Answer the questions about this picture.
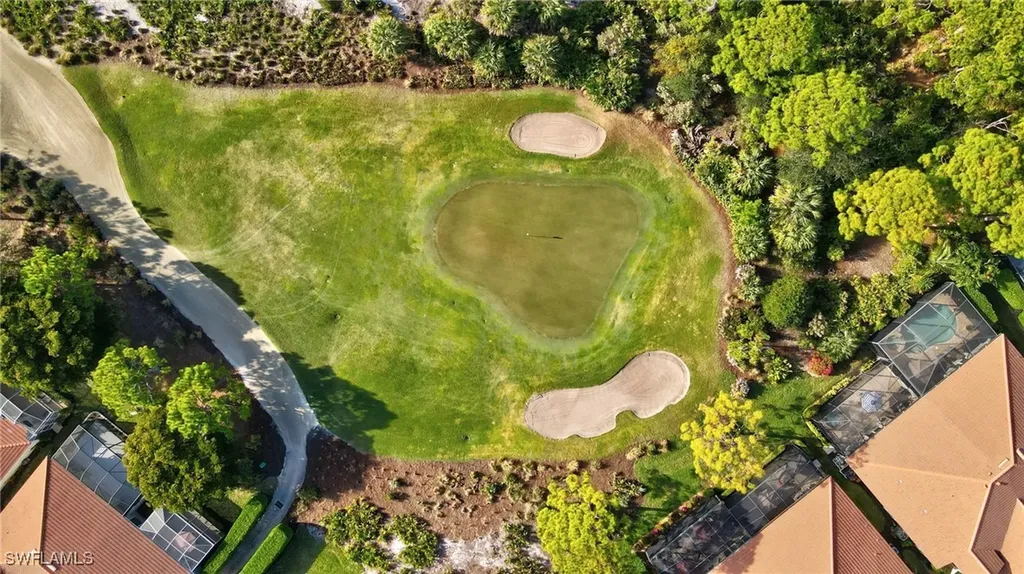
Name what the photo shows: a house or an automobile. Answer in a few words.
house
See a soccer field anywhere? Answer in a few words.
No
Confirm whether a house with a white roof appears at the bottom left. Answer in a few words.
No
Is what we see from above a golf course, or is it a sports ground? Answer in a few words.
golf course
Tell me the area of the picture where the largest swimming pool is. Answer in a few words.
right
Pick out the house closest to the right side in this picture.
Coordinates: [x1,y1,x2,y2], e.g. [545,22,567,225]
[843,334,1024,574]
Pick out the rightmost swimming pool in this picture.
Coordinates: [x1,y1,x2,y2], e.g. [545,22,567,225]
[907,303,960,348]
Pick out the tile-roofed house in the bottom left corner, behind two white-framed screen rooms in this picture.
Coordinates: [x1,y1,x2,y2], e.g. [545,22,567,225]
[0,457,198,574]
